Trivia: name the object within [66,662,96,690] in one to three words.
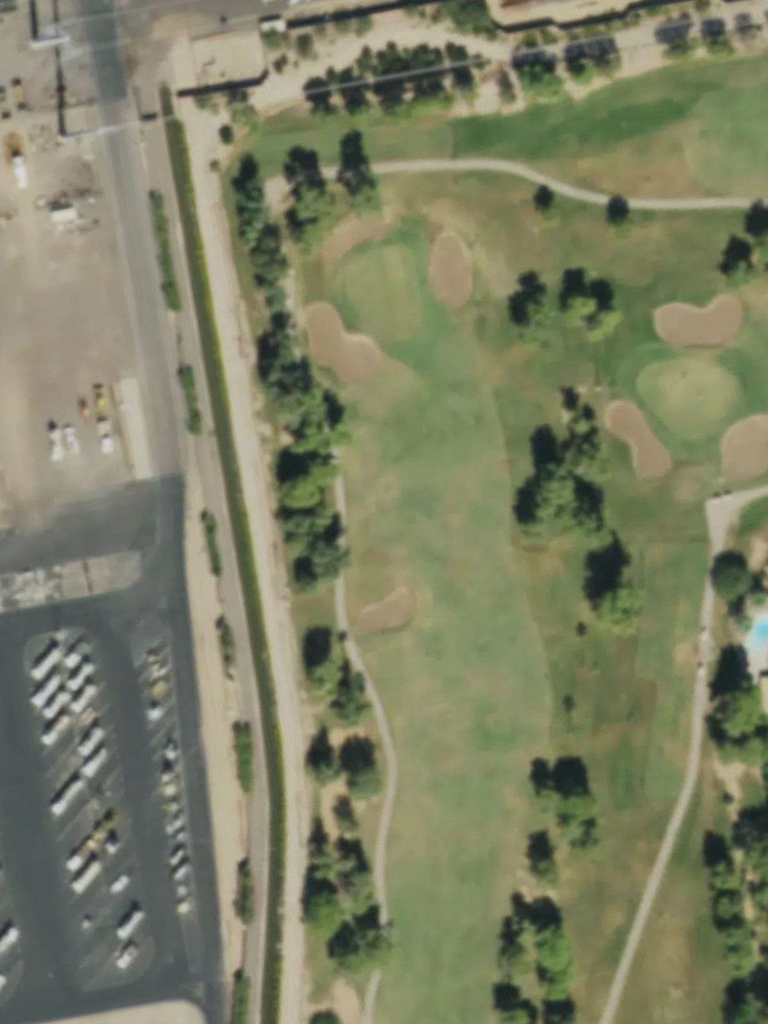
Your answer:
truck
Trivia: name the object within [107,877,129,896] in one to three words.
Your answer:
vehicle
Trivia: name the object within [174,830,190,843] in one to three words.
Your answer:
vehicle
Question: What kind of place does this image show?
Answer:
golf course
